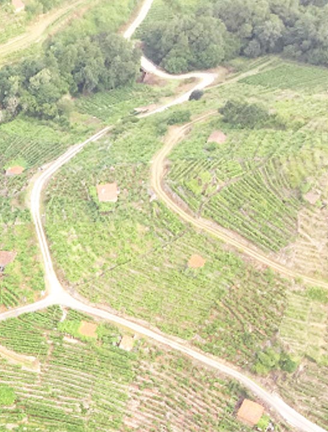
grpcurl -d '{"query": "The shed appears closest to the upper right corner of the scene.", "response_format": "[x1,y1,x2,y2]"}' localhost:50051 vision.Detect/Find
[204,129,226,151]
